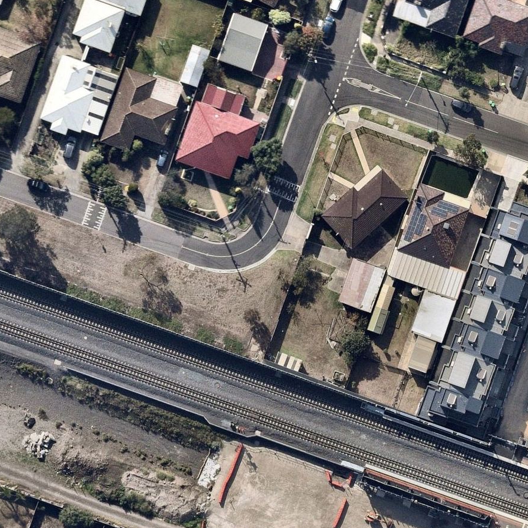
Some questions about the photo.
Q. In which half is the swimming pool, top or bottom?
top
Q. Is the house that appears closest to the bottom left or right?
right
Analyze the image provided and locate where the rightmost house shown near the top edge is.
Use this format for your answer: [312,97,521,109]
[463,0,528,58]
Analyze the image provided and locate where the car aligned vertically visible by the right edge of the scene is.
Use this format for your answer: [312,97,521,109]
[509,65,524,90]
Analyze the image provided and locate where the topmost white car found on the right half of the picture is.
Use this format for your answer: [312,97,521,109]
[328,0,342,15]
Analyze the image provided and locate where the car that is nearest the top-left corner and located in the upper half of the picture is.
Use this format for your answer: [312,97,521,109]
[64,136,76,160]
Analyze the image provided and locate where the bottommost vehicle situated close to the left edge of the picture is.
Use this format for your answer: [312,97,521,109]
[26,177,52,193]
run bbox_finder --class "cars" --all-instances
[328,0,342,15]
[26,177,52,193]
[64,136,76,160]
[323,13,336,39]
[156,147,167,169]
[450,98,475,113]
[509,65,524,90]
